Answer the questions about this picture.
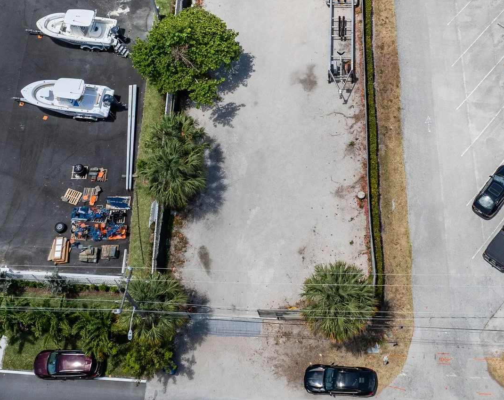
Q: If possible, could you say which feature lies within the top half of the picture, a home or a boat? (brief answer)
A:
boat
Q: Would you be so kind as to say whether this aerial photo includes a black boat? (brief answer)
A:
No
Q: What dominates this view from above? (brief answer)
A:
paved ground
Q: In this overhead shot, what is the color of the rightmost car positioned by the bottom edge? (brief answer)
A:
black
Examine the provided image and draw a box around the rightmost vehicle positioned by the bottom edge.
[304,361,377,400]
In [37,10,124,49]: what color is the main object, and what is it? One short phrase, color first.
white boat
